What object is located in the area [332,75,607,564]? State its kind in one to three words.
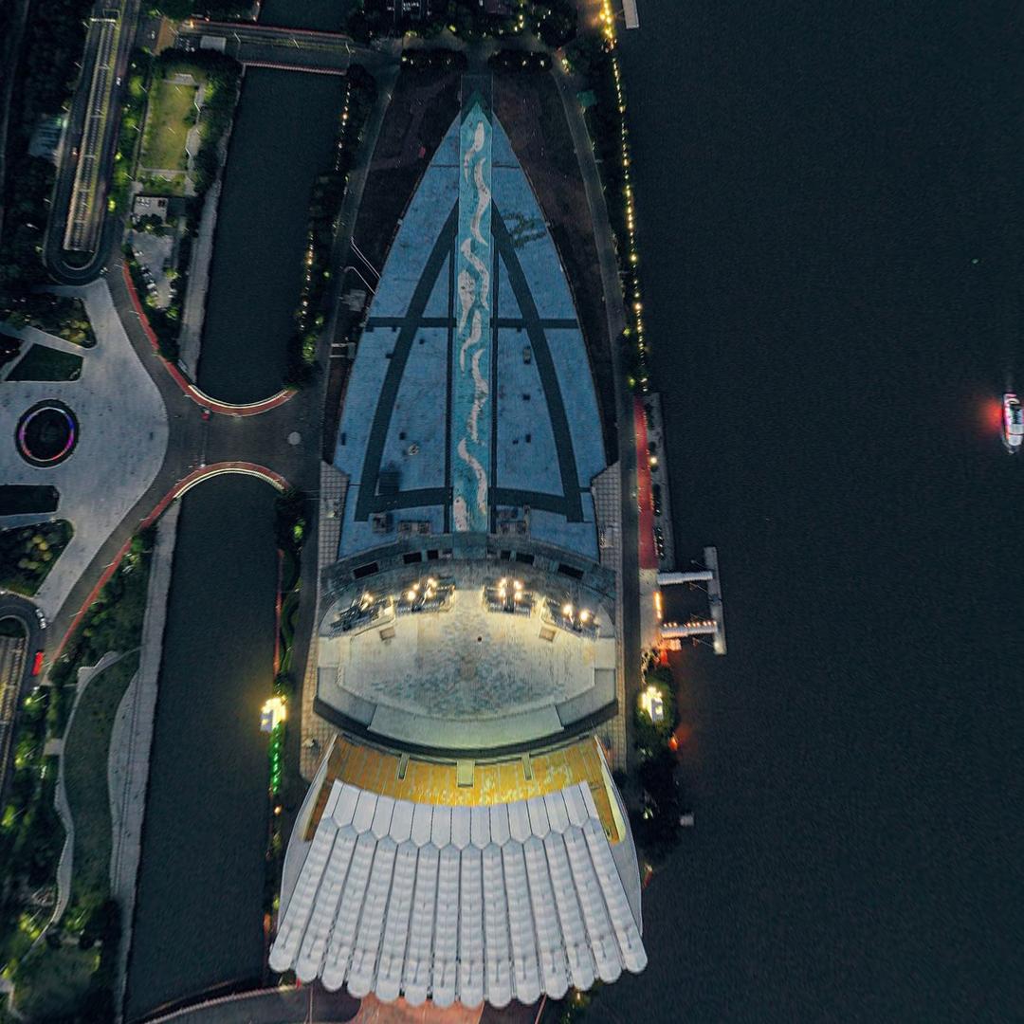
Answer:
building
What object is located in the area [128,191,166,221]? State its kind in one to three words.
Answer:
building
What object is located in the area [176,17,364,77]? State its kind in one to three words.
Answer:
bridge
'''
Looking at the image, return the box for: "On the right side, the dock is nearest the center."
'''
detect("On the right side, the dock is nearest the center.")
[657,547,726,654]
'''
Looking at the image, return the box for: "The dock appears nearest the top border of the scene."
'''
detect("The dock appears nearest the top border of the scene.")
[619,0,639,29]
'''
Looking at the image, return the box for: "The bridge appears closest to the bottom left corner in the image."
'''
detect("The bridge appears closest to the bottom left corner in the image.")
[129,976,299,1024]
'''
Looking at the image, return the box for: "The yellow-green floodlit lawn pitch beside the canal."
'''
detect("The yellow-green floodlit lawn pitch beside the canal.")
[136,63,208,194]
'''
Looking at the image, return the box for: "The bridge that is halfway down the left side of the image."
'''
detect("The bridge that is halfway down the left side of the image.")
[167,379,302,503]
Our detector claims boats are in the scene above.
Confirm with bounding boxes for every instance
[1002,393,1024,455]
[680,814,694,825]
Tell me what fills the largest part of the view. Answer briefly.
water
